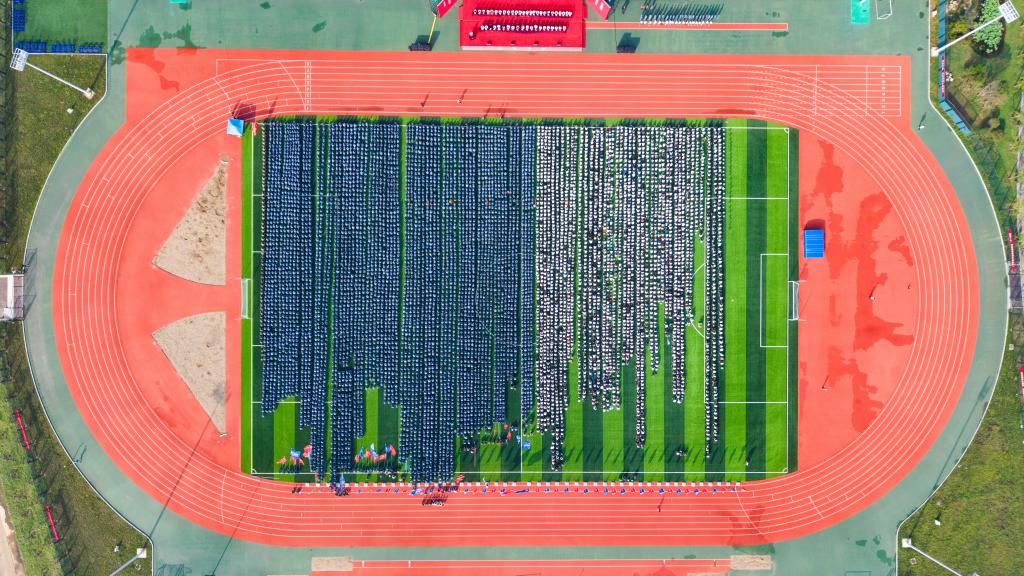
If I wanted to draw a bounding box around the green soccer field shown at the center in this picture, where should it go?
[241,114,799,483]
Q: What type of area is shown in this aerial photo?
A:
sports ground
